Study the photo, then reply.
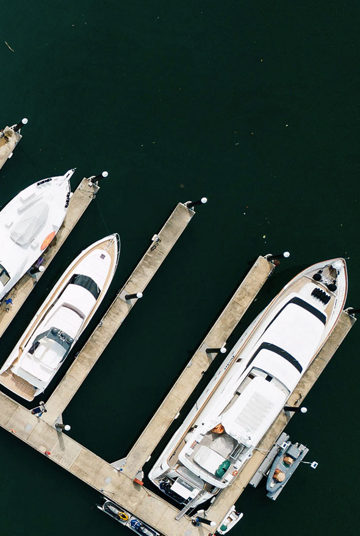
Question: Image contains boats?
Yes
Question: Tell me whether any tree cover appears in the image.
No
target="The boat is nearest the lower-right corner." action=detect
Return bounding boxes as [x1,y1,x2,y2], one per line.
[267,437,318,493]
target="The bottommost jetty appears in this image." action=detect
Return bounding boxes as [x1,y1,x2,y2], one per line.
[95,497,159,536]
